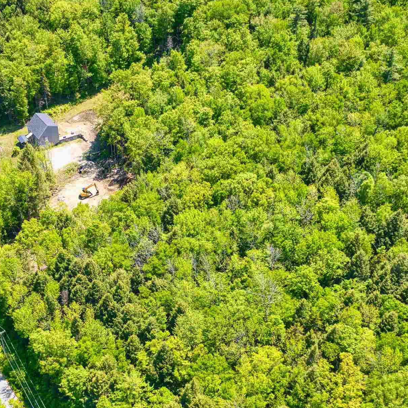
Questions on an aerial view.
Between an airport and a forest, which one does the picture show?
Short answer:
forest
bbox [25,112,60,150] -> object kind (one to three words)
house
